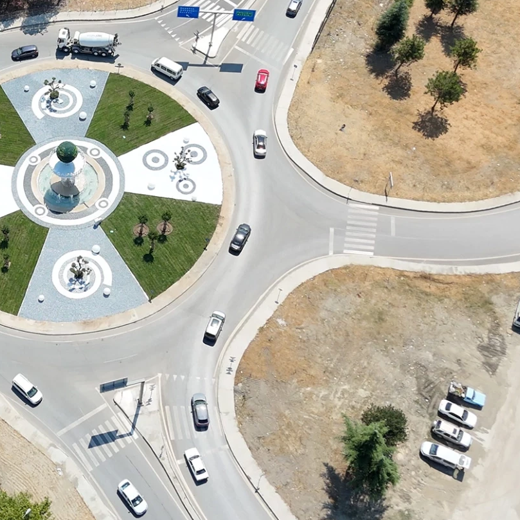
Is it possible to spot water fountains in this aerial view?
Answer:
Yes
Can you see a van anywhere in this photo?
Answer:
Yes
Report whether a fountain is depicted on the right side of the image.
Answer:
No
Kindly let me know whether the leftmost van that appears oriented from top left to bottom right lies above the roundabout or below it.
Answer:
below it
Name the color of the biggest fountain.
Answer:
white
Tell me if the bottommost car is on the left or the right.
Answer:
left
